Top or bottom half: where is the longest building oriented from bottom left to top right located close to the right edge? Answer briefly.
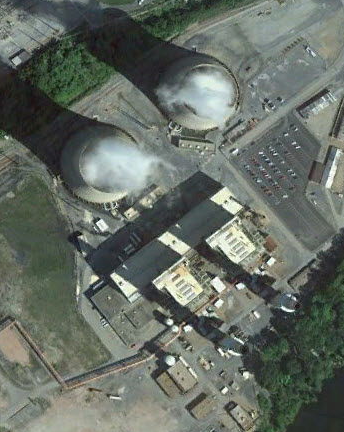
top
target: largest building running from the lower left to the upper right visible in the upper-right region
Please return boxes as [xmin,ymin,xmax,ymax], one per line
[300,93,335,119]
